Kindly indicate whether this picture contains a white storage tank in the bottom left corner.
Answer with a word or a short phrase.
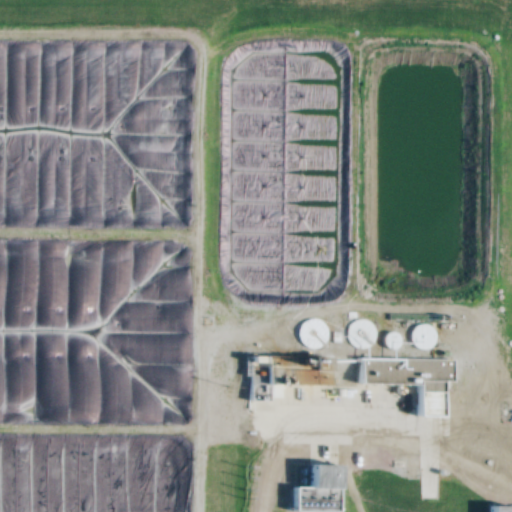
No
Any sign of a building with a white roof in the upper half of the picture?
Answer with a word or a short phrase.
No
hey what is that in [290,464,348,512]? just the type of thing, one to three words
building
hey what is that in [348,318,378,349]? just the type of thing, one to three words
storage tank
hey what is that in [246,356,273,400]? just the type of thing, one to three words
building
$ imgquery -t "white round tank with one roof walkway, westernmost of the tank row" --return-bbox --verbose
[298,318,330,350]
